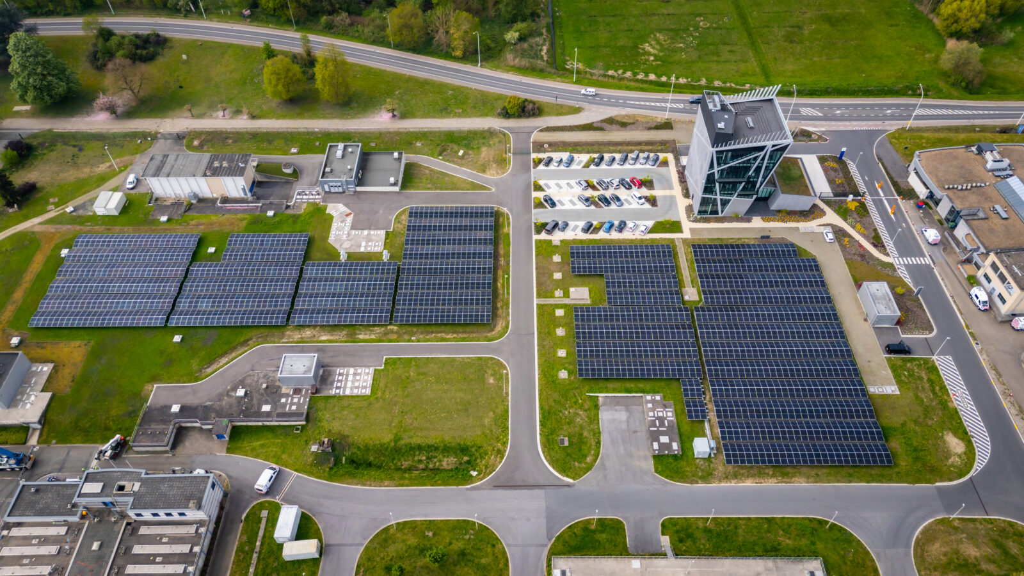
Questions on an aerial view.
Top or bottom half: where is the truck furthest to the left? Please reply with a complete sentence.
The bottom half of the photo is where the truck furthest to the left is.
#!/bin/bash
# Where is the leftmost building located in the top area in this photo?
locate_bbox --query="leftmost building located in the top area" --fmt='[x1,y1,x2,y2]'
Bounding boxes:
[138,154,258,200]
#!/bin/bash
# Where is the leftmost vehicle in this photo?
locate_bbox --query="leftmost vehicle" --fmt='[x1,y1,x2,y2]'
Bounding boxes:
[0,443,48,486]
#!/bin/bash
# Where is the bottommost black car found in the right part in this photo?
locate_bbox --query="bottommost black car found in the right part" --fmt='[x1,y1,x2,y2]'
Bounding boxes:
[885,340,911,354]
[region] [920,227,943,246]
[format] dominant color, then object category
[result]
white vehicle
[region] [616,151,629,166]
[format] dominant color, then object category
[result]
gray vehicle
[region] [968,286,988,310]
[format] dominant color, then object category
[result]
white vehicle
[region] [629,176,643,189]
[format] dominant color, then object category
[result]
red vehicle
